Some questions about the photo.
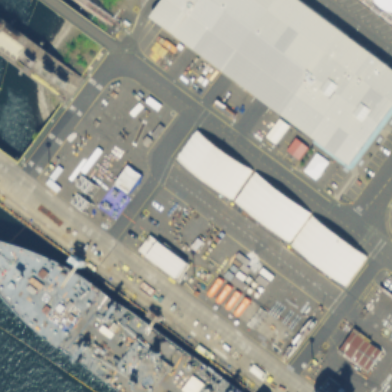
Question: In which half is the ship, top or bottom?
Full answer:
You can find the ship in the bottom half.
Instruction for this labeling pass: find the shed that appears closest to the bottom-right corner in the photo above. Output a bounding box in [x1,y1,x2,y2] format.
[340,330,382,372]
